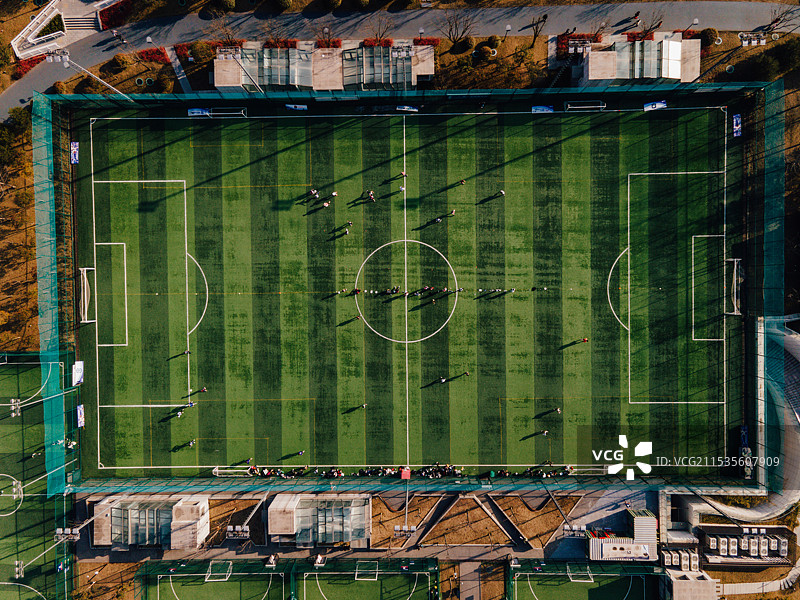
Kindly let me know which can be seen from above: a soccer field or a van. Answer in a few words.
soccer field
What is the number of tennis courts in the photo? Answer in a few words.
0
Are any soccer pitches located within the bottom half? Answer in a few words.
Yes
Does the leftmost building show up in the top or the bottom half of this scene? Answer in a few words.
bottom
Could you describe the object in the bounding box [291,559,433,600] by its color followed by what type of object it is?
green soccer field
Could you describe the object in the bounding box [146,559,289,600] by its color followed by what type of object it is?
green soccer field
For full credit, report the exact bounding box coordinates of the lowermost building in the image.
[662,568,721,600]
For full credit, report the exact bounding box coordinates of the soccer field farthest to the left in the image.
[0,356,82,600]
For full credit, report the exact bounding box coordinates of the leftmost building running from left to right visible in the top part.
[207,45,434,96]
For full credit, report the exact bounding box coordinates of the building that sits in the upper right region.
[570,39,701,89]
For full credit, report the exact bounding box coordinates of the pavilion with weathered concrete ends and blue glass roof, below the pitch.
[94,495,209,553]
